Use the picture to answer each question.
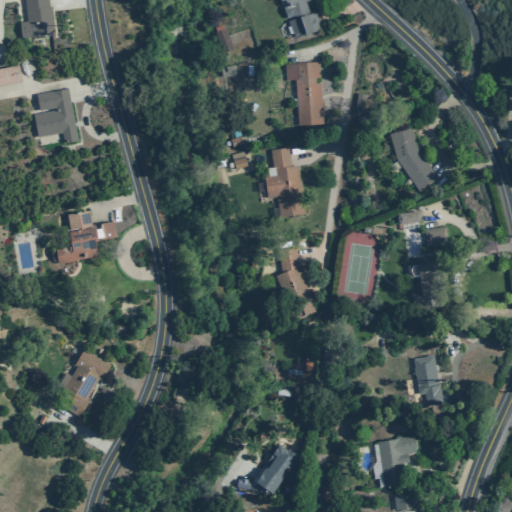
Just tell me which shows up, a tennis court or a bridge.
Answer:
tennis court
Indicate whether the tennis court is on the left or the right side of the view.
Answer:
right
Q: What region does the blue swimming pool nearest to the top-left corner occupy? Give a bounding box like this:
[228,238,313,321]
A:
[18,242,34,270]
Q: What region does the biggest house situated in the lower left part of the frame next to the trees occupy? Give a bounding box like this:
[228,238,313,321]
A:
[60,352,110,420]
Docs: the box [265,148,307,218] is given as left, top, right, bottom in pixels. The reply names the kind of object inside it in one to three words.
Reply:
house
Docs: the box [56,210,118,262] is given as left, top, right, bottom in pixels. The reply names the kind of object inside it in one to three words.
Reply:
house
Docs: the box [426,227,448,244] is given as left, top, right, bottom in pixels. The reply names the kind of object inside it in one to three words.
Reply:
building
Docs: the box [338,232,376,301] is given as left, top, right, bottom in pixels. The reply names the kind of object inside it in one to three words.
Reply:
tennis court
